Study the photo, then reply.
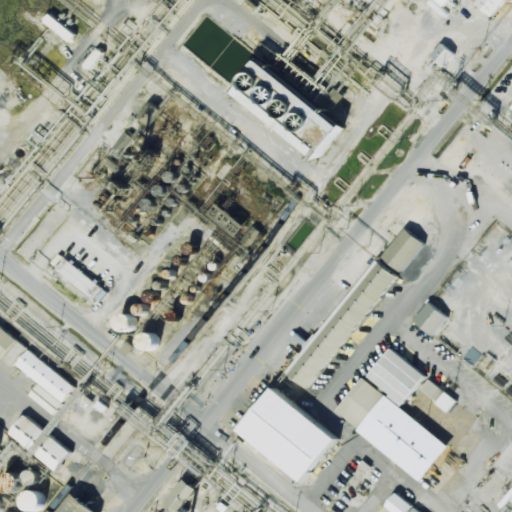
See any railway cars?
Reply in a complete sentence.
Yes, the frame does contain a railway car.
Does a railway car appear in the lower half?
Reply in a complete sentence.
Yes, I can see a railway car in the lower half.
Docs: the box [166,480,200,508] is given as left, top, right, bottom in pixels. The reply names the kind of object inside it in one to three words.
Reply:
building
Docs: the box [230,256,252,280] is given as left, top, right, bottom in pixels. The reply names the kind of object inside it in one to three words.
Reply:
rail car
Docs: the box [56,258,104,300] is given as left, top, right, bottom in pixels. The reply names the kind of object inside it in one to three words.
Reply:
building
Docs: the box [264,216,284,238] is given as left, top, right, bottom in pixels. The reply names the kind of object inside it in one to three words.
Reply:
rail car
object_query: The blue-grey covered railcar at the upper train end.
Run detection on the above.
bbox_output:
[280,195,301,218]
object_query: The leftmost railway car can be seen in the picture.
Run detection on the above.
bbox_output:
[104,420,124,443]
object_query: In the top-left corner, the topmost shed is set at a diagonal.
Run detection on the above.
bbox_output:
[42,13,80,44]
